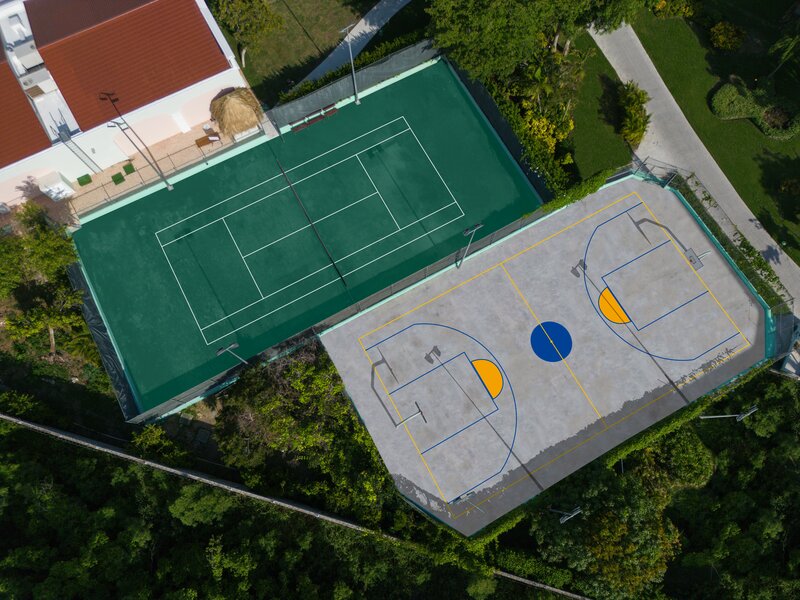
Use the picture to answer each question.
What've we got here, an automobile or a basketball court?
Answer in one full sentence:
I can see a basketball court in this picture.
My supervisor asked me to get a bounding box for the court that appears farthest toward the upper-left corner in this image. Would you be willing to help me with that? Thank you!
[70,59,550,420]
